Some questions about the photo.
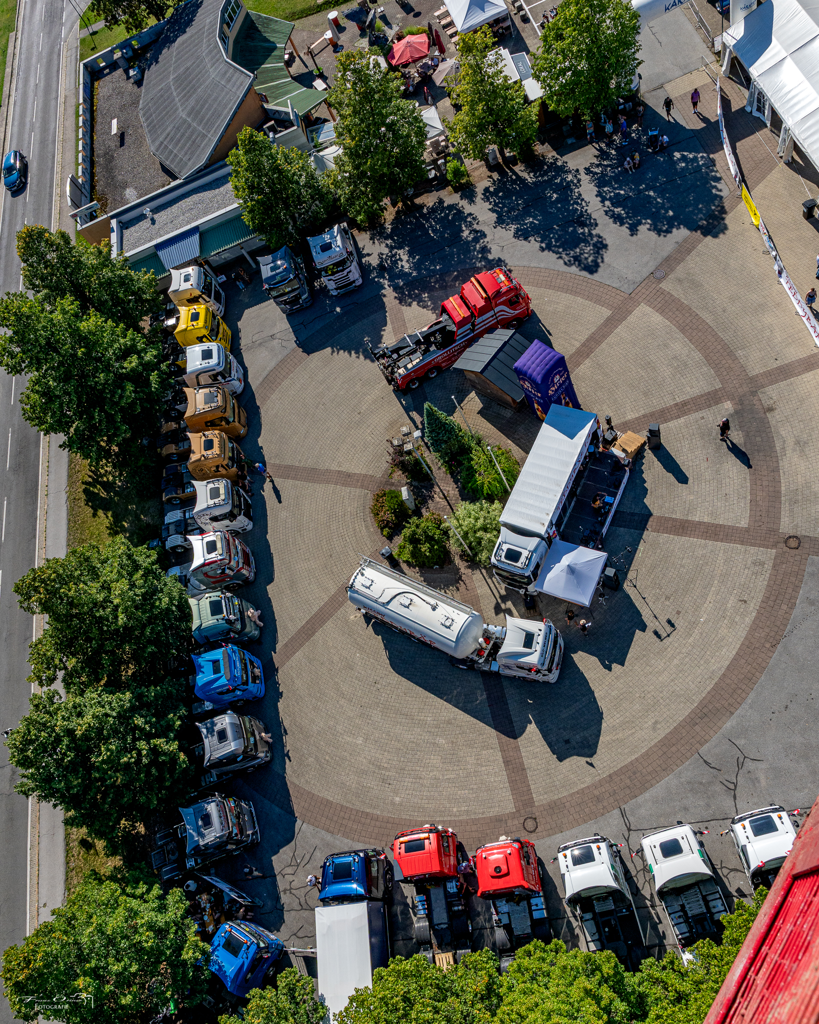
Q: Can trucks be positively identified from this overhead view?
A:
Yes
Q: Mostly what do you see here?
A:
paved ground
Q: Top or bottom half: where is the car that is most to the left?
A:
top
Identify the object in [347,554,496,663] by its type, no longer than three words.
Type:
trailer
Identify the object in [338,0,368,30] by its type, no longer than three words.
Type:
umbrella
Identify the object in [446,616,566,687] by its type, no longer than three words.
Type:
truck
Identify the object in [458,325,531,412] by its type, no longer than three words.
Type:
shed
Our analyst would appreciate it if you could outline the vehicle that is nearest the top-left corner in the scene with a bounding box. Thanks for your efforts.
[0,152,30,194]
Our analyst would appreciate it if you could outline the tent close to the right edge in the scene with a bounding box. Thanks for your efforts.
[688,0,819,184]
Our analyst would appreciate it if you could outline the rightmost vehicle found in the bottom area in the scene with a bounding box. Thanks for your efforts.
[715,791,800,899]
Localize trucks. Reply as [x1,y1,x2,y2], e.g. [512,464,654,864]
[309,220,362,296]
[463,830,561,982]
[259,240,313,317]
[187,903,294,1024]
[166,638,268,725]
[169,702,275,800]
[544,825,648,983]
[356,263,533,398]
[167,523,259,607]
[168,471,260,551]
[715,791,800,899]
[168,580,265,668]
[154,301,236,373]
[165,380,251,457]
[164,337,248,414]
[384,818,480,984]
[148,263,227,336]
[446,616,566,687]
[480,404,601,604]
[626,810,734,978]
[316,842,399,1024]
[164,425,253,502]
[151,785,262,882]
